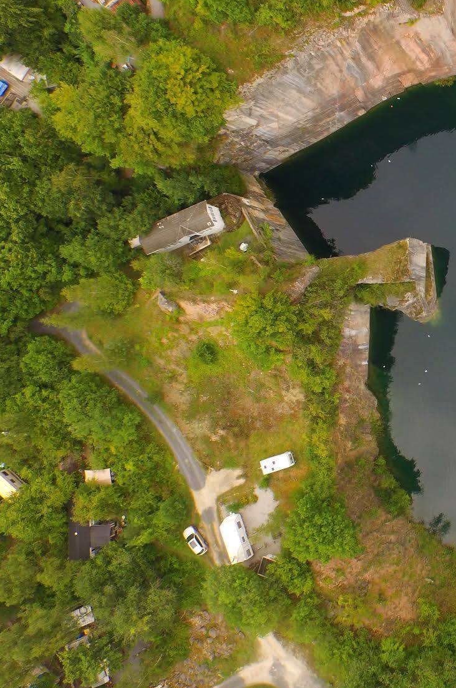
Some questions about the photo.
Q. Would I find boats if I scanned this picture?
No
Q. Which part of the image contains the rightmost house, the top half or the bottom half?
top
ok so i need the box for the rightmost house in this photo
[129,200,224,255]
